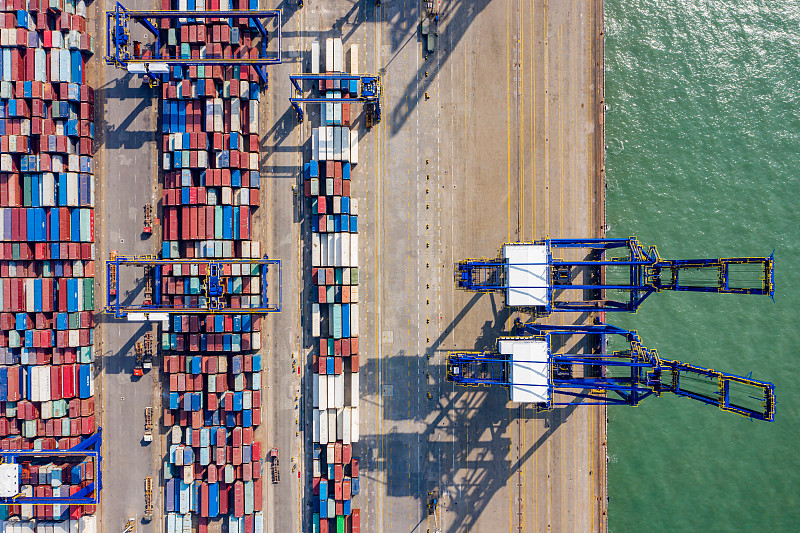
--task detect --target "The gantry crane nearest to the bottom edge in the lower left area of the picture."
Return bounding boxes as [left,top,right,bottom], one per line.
[0,425,101,510]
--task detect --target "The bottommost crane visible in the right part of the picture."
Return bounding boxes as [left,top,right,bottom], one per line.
[440,311,780,429]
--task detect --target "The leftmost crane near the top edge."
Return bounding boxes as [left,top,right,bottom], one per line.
[104,2,284,94]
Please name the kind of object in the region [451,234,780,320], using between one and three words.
container crane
